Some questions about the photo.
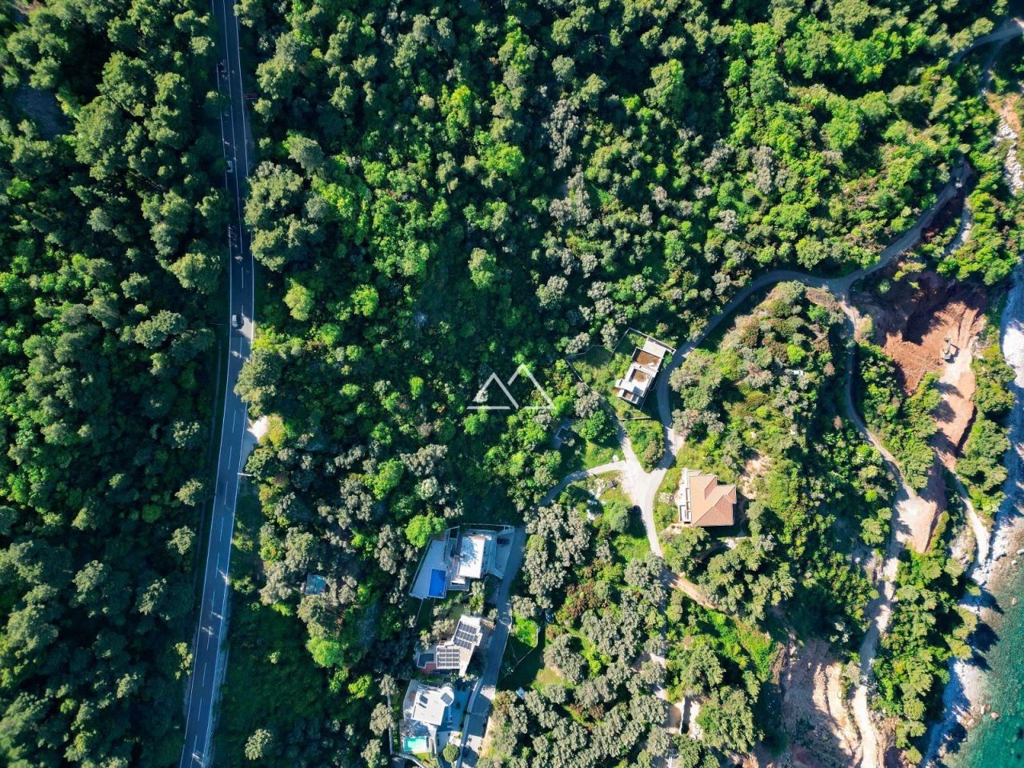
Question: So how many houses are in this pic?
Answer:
five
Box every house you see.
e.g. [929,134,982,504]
[614,338,667,404]
[409,525,513,600]
[413,612,494,677]
[400,679,472,755]
[674,468,737,526]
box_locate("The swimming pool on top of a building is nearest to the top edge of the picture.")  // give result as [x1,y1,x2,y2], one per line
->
[427,568,448,598]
